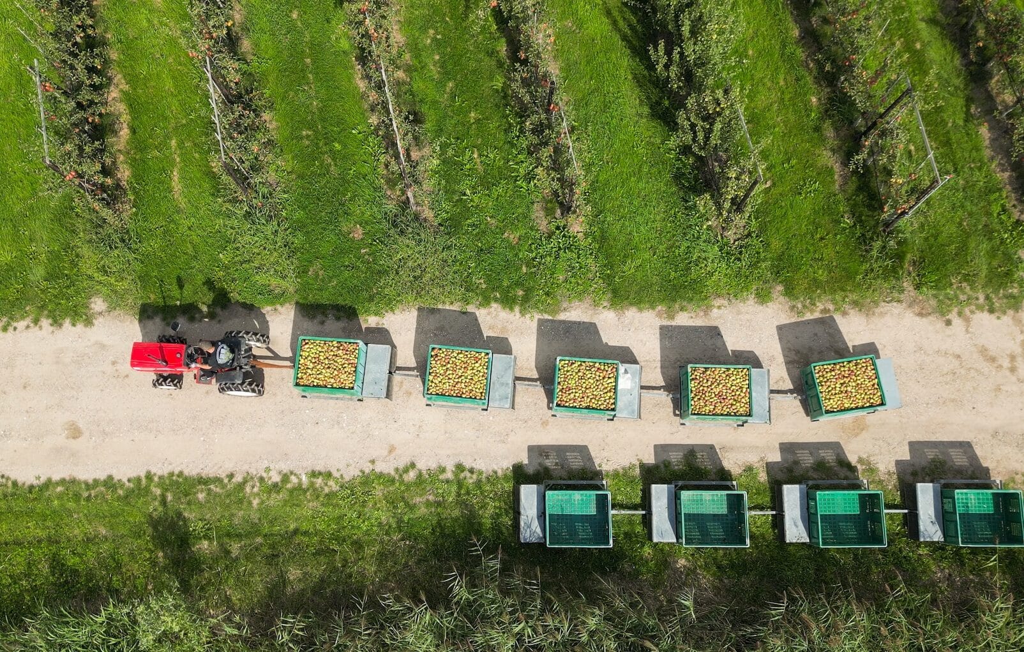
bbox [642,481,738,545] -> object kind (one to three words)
trailer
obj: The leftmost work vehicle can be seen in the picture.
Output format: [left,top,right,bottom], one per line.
[131,322,273,397]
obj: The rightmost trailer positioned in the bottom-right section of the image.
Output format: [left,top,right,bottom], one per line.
[899,480,1001,544]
